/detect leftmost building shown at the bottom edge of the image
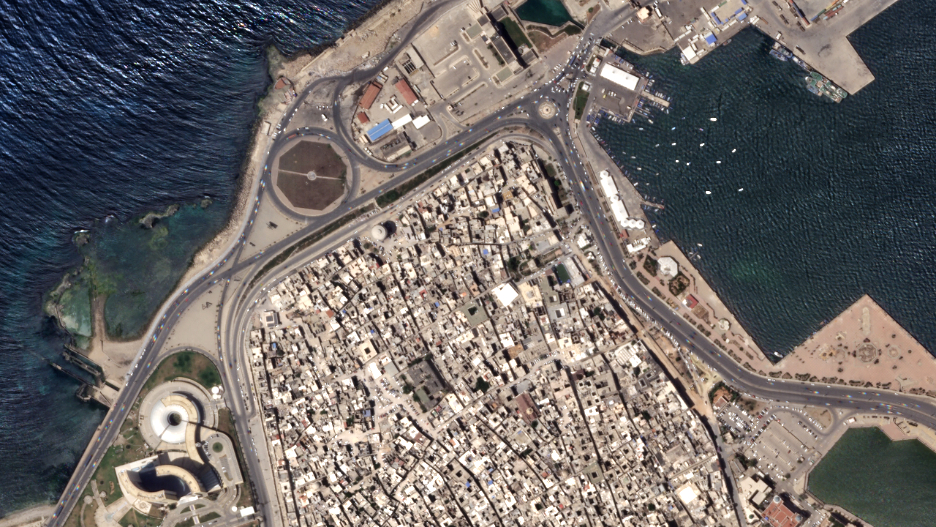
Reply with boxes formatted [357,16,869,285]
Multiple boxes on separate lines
[115,378,223,513]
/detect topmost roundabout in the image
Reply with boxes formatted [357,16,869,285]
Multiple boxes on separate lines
[523,86,570,133]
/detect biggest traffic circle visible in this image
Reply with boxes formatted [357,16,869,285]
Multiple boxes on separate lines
[263,126,361,226]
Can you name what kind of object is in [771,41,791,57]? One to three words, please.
ship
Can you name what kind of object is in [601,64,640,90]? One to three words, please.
building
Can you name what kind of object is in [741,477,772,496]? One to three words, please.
building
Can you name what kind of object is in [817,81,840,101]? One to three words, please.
ship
